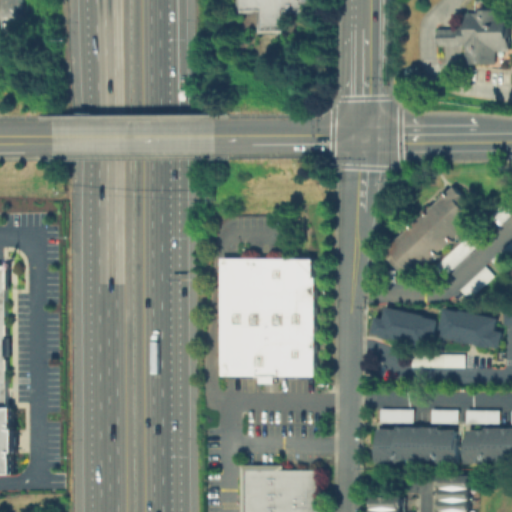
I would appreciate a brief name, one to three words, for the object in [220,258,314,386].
building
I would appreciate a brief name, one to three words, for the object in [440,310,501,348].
building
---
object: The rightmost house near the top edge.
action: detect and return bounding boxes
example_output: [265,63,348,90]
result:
[464,10,510,64]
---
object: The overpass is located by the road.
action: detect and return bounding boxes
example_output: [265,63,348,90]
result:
[39,113,219,158]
